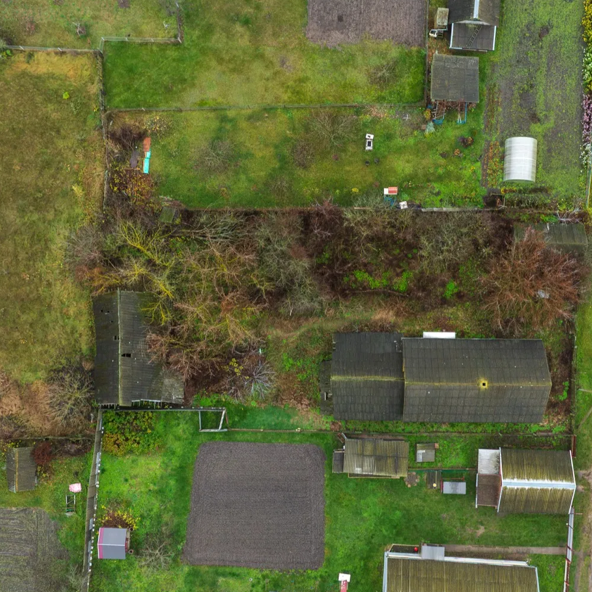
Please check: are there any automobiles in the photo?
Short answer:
No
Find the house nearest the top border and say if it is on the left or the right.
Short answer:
right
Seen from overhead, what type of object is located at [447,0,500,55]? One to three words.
house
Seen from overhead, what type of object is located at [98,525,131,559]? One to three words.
shed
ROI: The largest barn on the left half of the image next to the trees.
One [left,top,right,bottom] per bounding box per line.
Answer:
[93,289,185,407]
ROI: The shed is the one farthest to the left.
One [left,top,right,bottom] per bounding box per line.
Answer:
[7,446,42,493]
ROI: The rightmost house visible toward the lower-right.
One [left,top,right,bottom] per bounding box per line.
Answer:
[476,447,578,515]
